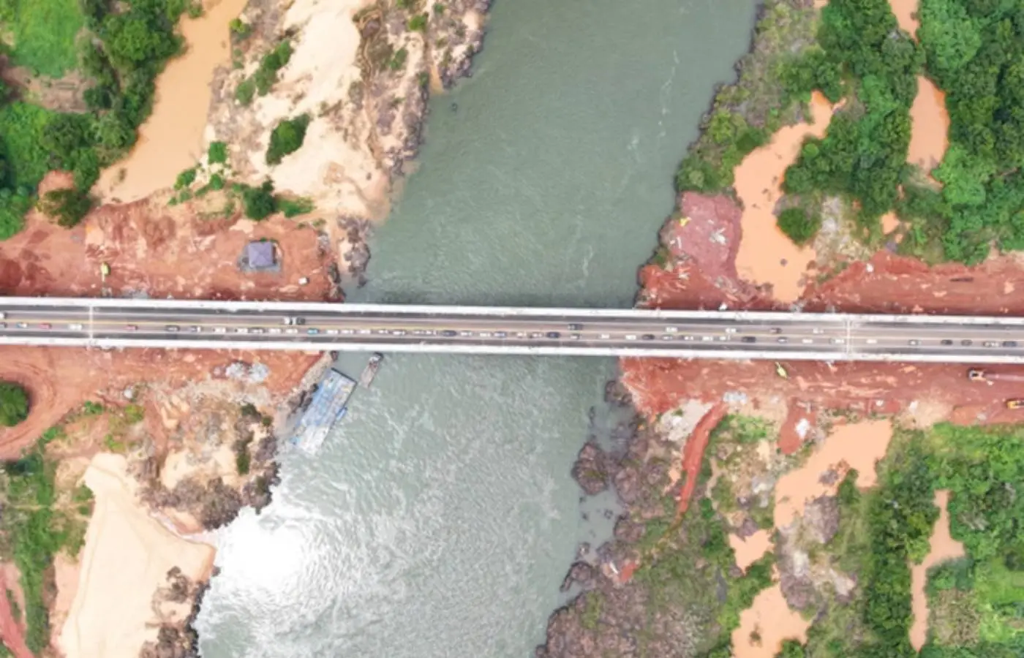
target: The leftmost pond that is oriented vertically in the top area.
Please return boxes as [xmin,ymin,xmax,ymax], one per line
[732,93,844,300]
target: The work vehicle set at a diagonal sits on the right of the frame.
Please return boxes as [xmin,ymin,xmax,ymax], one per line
[772,359,787,377]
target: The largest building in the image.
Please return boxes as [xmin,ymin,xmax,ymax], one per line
[246,242,279,273]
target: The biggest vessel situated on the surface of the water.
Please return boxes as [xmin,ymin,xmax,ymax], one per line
[295,367,357,454]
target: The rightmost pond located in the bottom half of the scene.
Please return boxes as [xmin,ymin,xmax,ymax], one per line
[909,492,963,651]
